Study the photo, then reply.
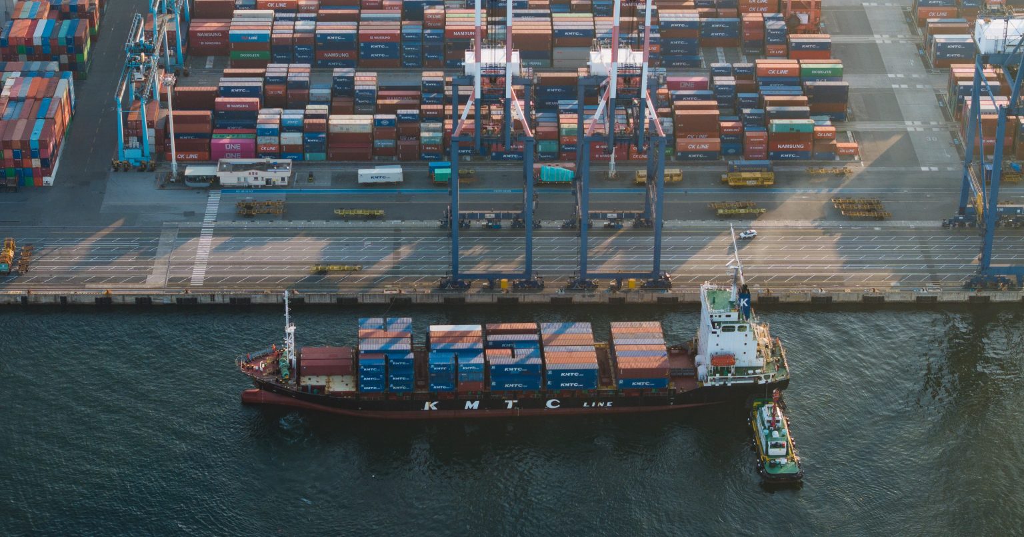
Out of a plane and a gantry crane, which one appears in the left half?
gantry crane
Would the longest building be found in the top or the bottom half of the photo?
top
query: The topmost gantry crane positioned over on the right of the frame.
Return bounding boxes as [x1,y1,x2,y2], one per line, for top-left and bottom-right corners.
[778,0,823,37]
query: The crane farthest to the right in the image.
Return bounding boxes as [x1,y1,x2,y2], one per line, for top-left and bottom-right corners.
[945,6,1024,287]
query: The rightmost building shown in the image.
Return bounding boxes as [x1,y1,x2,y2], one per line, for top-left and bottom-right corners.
[218,159,293,187]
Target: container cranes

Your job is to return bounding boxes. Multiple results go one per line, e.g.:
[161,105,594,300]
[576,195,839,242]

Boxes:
[945,6,1024,287]
[778,0,823,37]
[114,49,168,170]
[158,0,200,72]
[560,0,676,287]
[436,0,547,287]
